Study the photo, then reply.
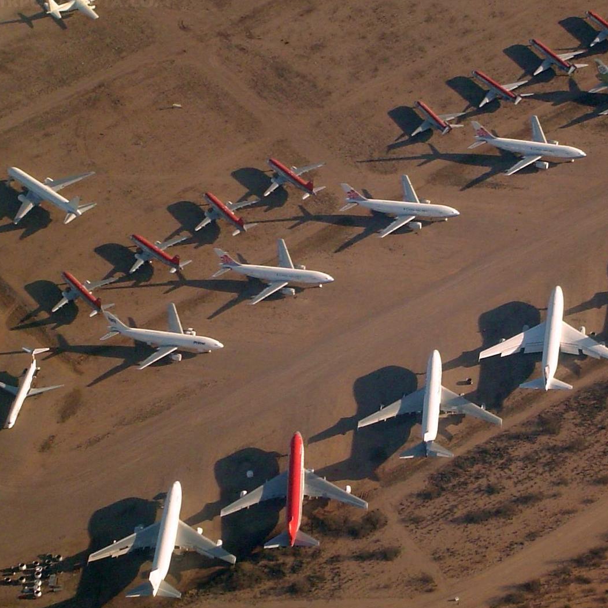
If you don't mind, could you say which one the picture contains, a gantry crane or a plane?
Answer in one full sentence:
This aerial view contains a plane.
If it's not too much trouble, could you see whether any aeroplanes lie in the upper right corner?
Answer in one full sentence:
Yes, I can see an aeroplane in the upper right corner.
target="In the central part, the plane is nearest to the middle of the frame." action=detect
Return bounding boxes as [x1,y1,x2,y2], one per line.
[212,238,335,306]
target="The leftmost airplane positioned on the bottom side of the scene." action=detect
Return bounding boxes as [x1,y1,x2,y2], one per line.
[0,349,64,430]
